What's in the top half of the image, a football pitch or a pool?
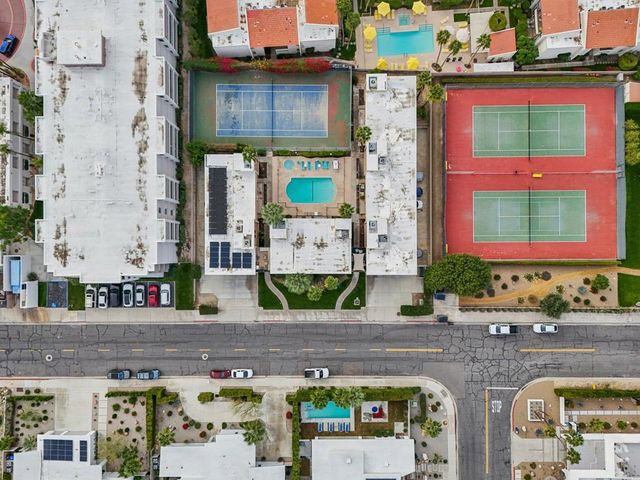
pool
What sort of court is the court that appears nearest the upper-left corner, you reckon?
tennis court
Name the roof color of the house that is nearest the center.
white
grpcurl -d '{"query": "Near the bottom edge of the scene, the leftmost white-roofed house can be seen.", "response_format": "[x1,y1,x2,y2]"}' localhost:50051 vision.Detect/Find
[12,426,110,480]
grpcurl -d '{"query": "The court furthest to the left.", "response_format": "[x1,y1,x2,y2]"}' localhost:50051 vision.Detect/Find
[192,69,353,151]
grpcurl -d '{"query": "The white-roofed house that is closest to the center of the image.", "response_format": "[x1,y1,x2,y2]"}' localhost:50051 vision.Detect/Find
[271,219,352,274]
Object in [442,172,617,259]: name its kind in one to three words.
tennis court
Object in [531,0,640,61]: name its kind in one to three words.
building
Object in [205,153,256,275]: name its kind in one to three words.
house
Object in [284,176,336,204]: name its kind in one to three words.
swimming pool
